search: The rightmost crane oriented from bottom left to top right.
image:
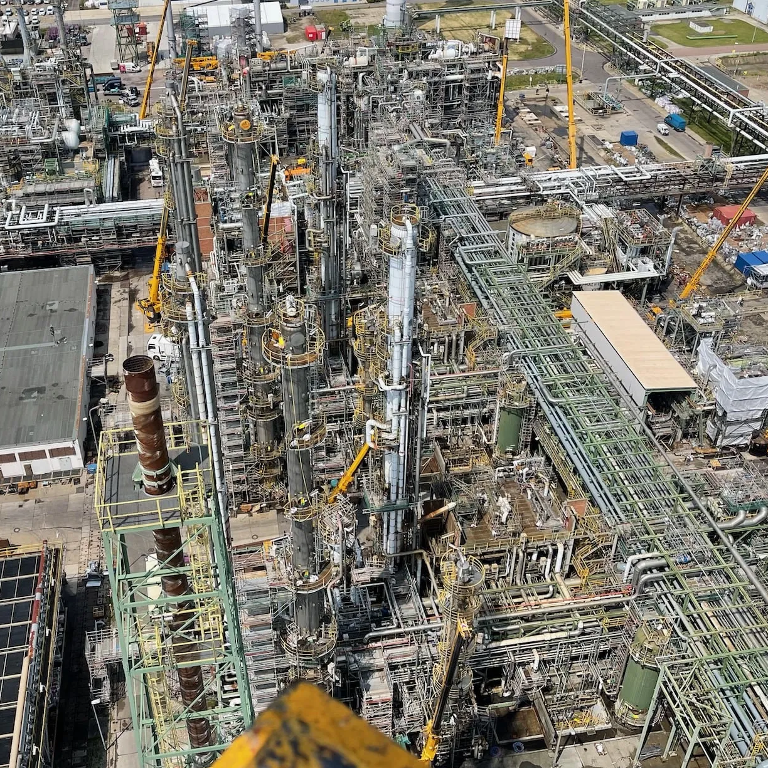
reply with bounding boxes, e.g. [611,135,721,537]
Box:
[657,165,768,303]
